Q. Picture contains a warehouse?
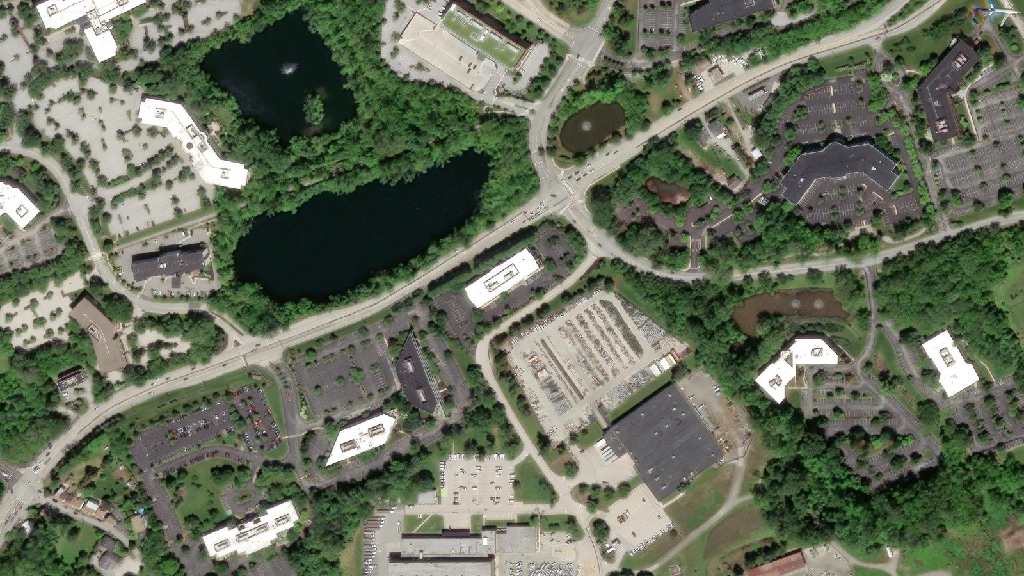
Yes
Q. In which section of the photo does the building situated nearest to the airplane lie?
top right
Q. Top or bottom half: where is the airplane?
top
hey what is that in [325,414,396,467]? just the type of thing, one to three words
building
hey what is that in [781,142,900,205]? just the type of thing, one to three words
building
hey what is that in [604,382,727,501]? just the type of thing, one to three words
warehouse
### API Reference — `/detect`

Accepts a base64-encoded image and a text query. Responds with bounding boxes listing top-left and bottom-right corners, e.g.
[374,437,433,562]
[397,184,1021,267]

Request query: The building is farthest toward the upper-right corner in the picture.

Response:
[918,38,981,142]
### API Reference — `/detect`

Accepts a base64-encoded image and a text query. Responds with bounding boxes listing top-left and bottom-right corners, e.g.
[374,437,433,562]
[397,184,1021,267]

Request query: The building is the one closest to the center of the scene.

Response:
[465,249,539,308]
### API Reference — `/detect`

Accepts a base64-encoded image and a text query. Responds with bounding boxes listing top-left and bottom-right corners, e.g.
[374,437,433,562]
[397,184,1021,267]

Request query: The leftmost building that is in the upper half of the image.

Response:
[0,182,40,228]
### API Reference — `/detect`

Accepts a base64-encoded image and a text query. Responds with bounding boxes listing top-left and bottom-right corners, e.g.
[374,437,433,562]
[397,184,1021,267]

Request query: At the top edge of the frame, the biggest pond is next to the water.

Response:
[200,12,356,140]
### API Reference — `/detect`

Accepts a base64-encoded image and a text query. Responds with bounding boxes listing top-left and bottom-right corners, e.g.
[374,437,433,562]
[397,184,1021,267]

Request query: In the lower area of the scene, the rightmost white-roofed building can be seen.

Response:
[924,330,980,398]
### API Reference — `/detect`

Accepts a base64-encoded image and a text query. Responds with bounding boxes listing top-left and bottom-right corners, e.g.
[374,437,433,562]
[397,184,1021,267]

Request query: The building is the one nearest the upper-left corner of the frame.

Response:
[35,0,147,63]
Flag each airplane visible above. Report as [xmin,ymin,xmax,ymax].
[990,0,1021,27]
